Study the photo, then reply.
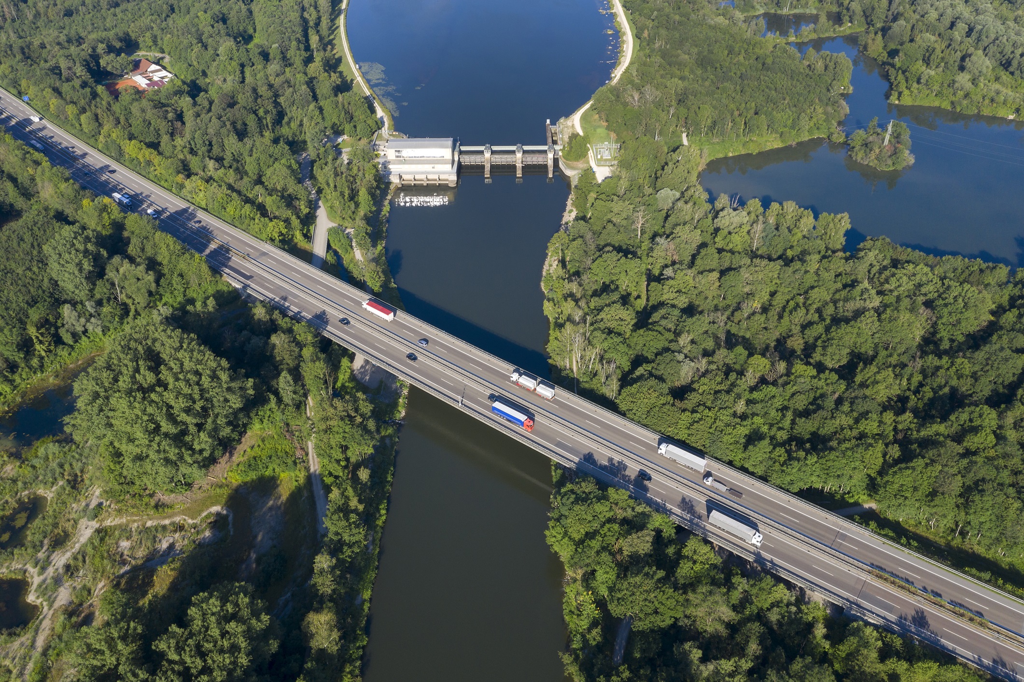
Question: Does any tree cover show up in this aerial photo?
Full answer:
Yes, the picture does contain tree cover.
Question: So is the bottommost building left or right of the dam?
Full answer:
Looking at the photo, the bottommost building lies to the left of the dam.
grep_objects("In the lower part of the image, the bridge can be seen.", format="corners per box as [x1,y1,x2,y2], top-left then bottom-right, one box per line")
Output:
[229,252,874,604]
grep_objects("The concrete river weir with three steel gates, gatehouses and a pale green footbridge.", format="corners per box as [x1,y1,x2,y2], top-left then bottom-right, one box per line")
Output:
[460,121,562,178]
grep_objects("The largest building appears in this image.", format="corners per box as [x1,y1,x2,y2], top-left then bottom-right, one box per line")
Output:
[371,135,461,186]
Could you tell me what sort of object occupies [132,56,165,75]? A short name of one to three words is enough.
house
